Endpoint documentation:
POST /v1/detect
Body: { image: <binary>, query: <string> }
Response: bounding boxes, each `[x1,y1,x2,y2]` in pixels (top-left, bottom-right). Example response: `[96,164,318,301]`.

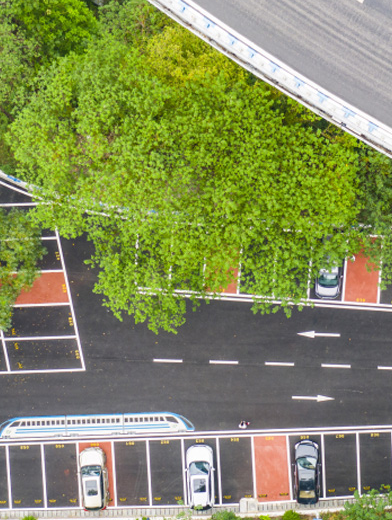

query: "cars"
[181,442,216,510]
[312,240,343,301]
[290,439,320,505]
[73,443,111,510]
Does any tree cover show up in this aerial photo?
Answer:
Yes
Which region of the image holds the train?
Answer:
bottom left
